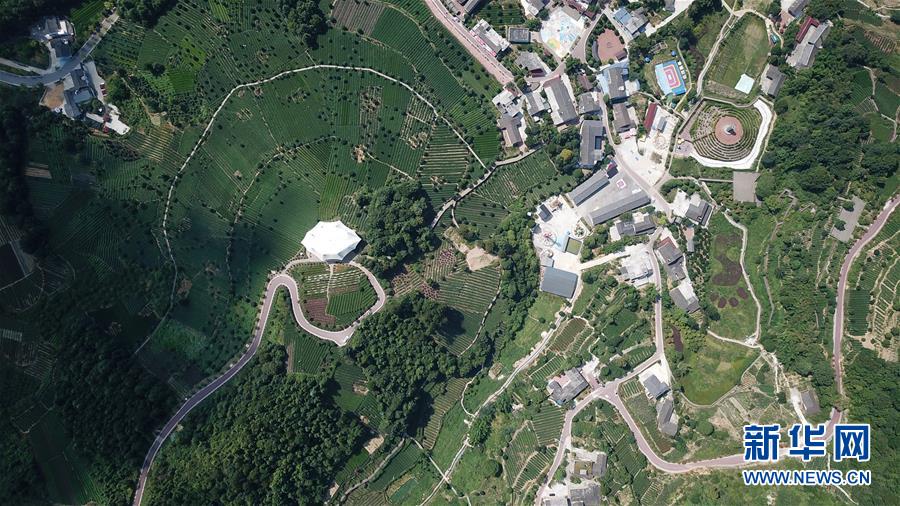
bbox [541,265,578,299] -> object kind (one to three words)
shed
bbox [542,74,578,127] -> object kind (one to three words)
building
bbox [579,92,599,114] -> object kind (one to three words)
house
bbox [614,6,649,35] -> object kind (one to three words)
house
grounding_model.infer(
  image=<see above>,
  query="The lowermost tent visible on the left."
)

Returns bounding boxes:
[301,220,361,263]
